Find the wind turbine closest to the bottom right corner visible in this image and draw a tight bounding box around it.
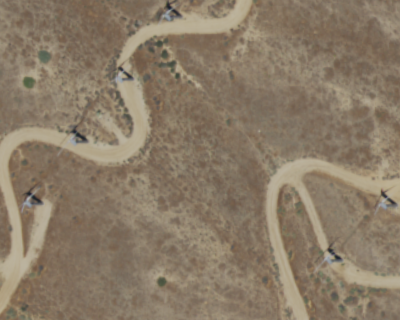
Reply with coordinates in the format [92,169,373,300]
[316,246,344,270]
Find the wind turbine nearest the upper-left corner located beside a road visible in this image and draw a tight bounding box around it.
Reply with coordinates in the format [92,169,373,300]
[112,60,135,86]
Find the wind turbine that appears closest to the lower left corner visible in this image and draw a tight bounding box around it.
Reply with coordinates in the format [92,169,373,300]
[18,184,44,212]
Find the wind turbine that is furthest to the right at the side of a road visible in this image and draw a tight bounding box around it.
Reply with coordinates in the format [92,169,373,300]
[374,188,398,216]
